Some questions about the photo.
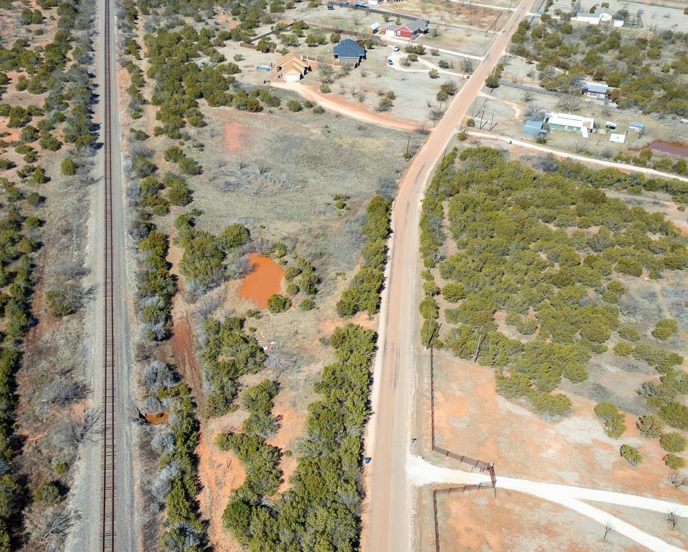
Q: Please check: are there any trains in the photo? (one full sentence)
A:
No, there is no train in the image.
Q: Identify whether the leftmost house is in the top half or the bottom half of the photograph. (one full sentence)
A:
You can find the leftmost house in the top half.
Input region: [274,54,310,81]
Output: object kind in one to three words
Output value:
house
